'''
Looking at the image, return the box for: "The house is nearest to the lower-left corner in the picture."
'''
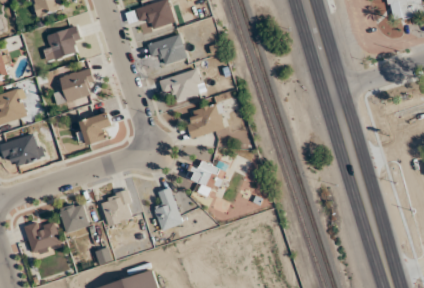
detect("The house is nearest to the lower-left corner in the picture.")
[21,217,60,250]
